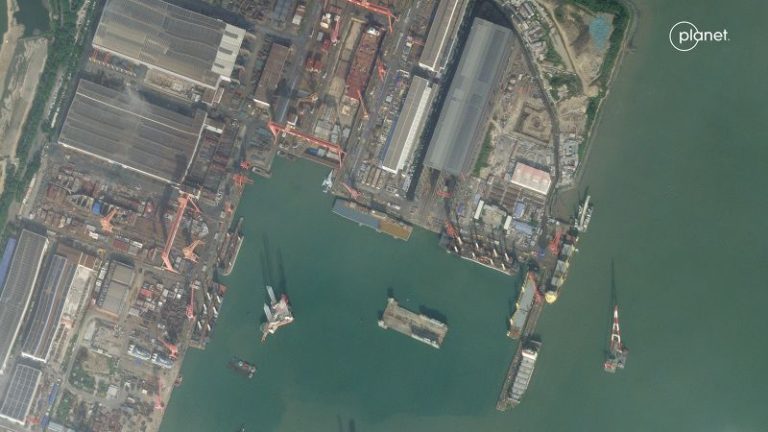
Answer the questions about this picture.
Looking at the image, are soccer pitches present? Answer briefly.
No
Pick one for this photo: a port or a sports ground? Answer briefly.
port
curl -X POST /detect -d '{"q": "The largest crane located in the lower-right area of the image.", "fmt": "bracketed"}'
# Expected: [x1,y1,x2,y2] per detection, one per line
[602,304,629,376]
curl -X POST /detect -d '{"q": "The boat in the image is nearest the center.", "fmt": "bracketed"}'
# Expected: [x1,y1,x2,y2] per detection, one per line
[320,170,334,190]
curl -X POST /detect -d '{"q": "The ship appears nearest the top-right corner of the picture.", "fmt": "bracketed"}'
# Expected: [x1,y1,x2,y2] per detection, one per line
[574,195,593,230]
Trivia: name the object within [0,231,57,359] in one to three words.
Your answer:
shed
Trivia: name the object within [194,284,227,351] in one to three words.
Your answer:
ship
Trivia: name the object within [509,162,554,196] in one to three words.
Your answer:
shed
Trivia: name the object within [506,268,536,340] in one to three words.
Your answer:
ship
